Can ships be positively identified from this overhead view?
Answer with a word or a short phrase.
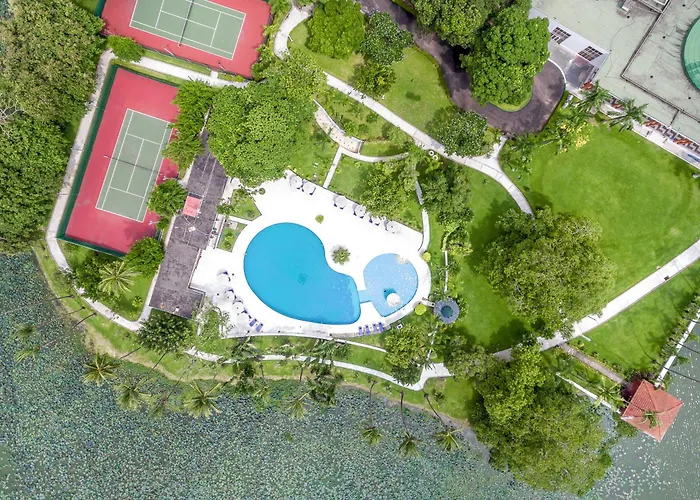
No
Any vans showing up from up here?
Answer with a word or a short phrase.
No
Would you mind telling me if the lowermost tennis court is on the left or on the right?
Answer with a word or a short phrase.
left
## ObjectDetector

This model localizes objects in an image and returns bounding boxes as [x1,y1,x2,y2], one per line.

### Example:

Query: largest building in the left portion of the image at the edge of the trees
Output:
[149,129,229,319]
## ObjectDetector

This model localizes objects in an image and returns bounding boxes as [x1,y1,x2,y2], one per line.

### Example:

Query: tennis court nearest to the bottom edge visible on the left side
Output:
[65,68,200,256]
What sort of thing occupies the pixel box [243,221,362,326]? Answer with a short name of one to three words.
swimming pool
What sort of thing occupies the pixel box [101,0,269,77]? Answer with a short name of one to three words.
tennis court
